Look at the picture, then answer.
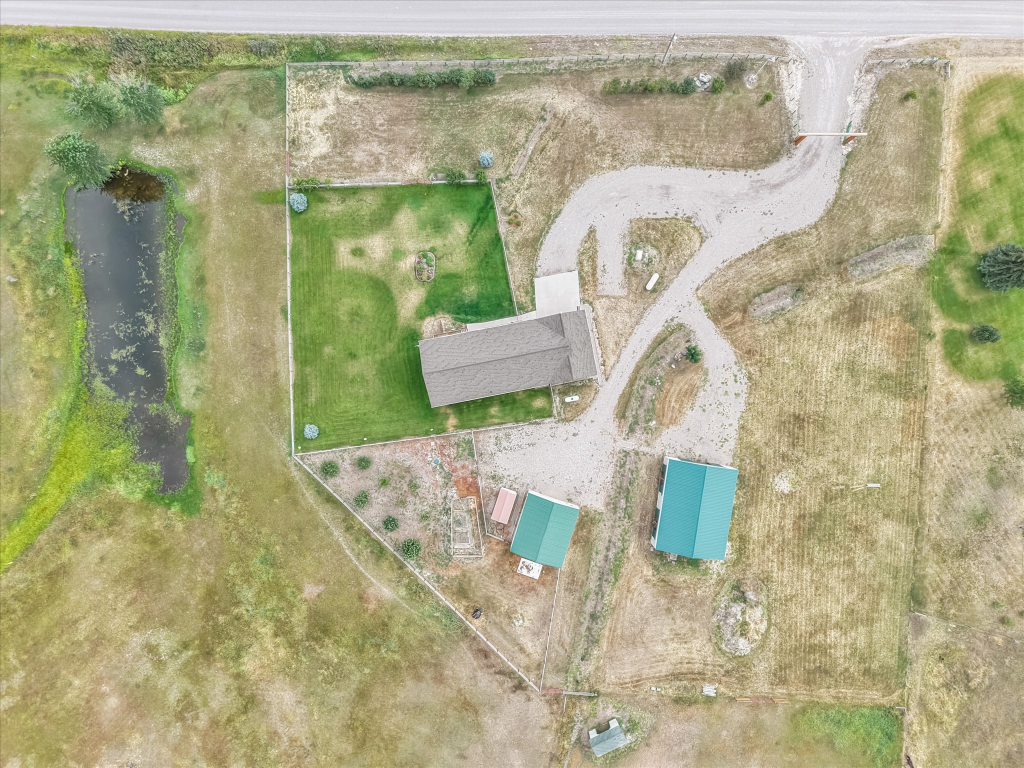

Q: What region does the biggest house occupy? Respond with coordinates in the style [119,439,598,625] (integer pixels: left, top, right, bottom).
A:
[414,306,598,408]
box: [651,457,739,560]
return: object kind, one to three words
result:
barn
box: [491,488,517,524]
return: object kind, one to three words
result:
shed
